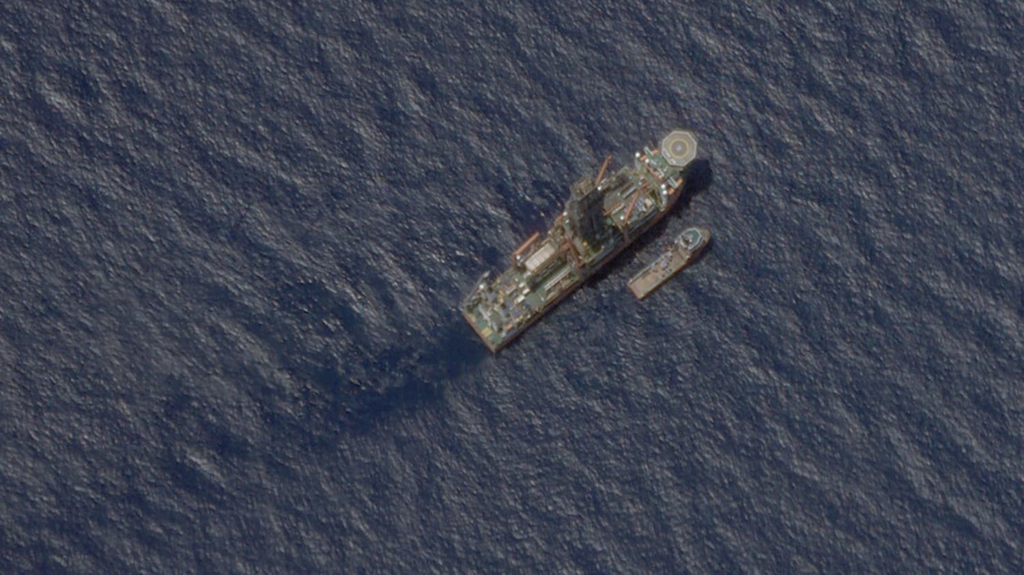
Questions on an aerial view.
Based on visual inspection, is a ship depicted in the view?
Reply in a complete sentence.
Yes, the image includes a ship.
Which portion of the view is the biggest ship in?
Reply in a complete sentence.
The biggest ship is located in the center region of the scene.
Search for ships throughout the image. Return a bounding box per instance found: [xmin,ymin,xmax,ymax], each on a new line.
[463,129,698,352]
[628,226,709,301]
